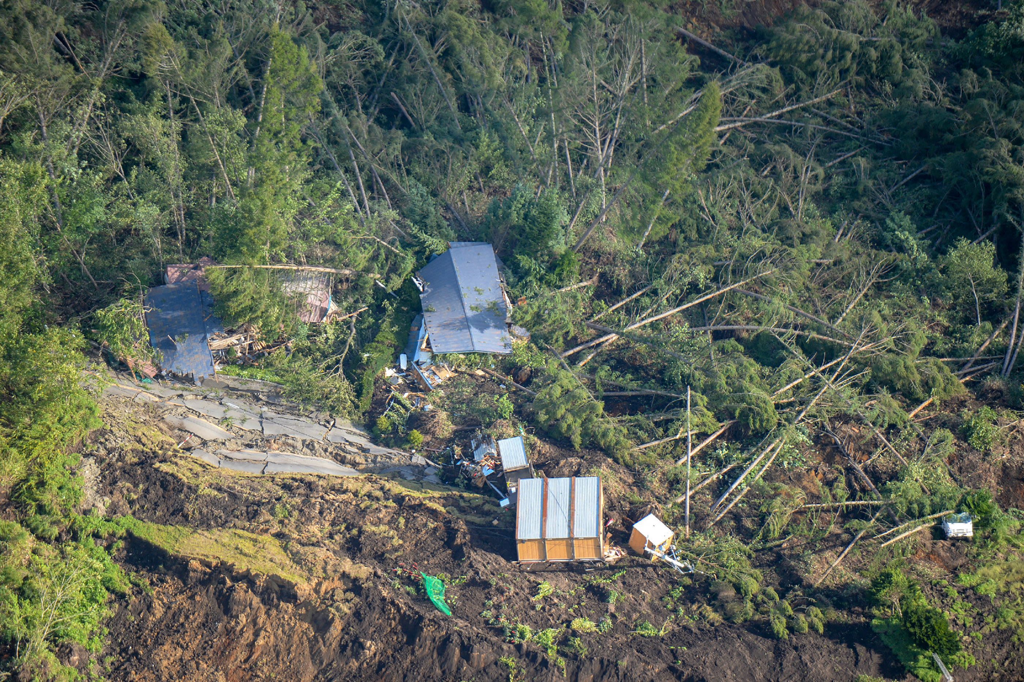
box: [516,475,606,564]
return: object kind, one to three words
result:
shed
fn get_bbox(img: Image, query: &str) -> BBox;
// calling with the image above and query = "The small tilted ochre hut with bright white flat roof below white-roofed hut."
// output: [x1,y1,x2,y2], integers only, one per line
[630,514,673,559]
